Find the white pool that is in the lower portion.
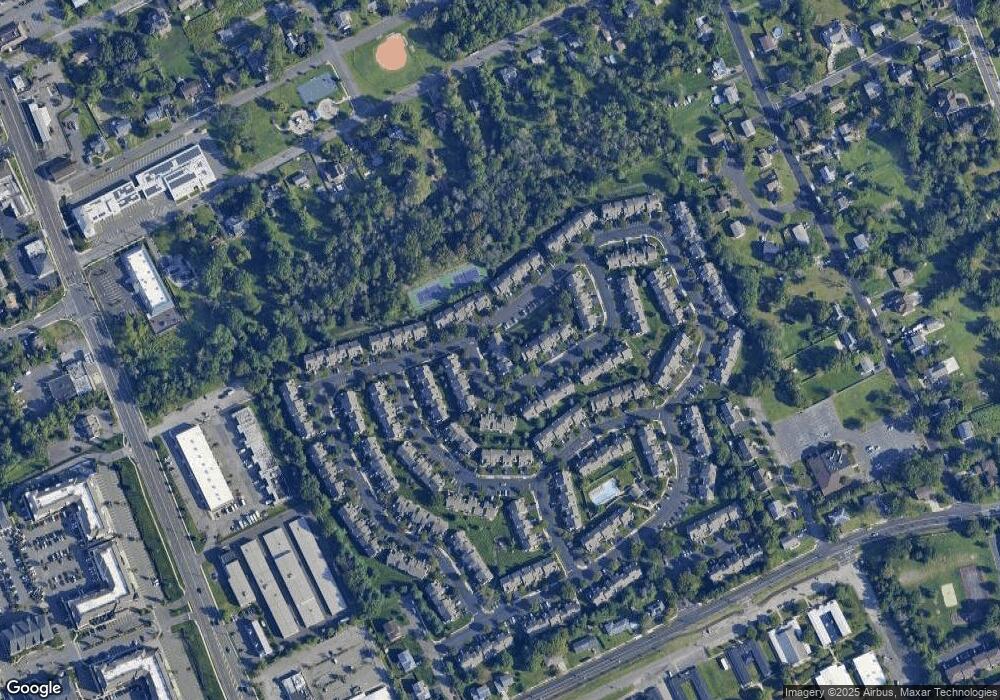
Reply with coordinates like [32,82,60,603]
[589,477,622,507]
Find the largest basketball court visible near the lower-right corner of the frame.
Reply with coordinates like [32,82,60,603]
[960,565,989,599]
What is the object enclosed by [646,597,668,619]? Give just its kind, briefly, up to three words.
house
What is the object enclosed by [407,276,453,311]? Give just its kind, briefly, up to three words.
tennis court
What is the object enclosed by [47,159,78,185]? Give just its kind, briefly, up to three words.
building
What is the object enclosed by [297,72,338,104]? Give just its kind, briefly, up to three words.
basketball court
